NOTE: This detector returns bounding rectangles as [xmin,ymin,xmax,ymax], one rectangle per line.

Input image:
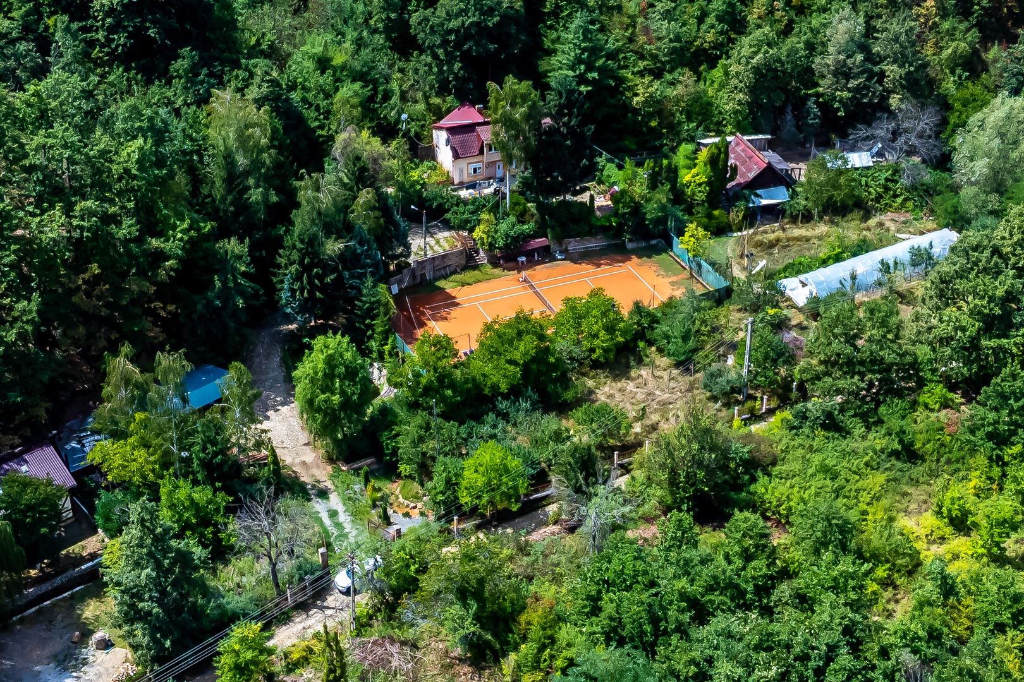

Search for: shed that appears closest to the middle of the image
[488,231,550,267]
